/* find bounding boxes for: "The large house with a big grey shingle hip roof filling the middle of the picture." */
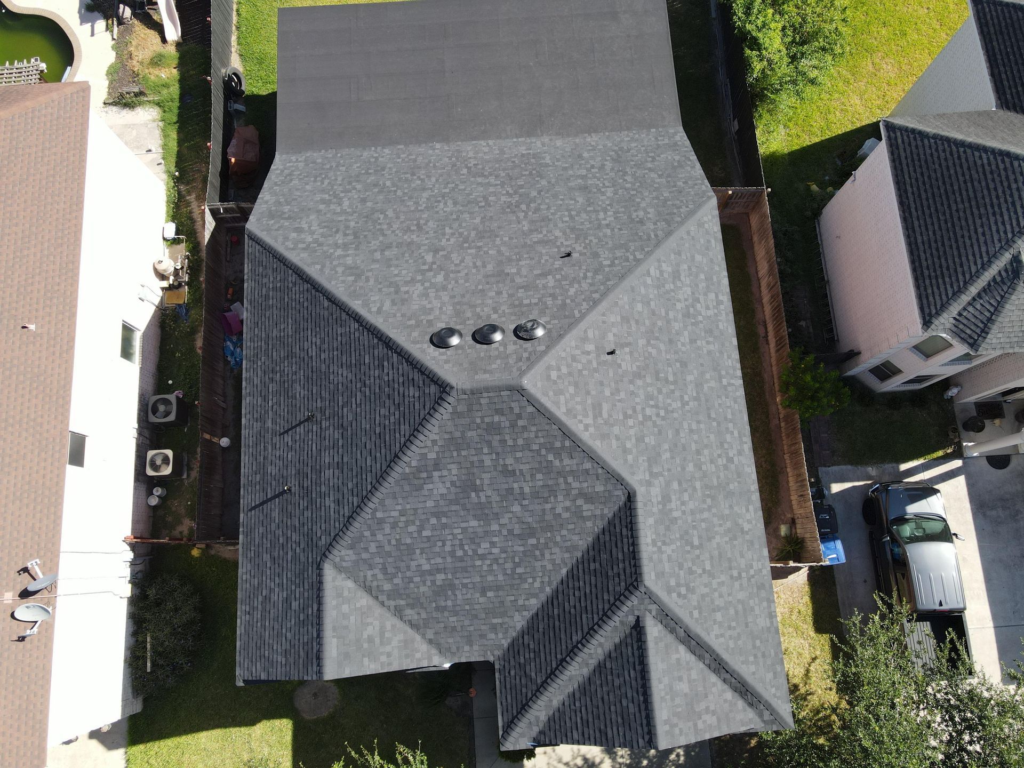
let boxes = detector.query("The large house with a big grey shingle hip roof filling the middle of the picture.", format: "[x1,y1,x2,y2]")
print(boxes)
[234,0,797,754]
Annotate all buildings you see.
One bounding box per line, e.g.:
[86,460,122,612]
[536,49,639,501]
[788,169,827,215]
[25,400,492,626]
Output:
[817,0,1024,461]
[234,0,797,754]
[0,85,169,768]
